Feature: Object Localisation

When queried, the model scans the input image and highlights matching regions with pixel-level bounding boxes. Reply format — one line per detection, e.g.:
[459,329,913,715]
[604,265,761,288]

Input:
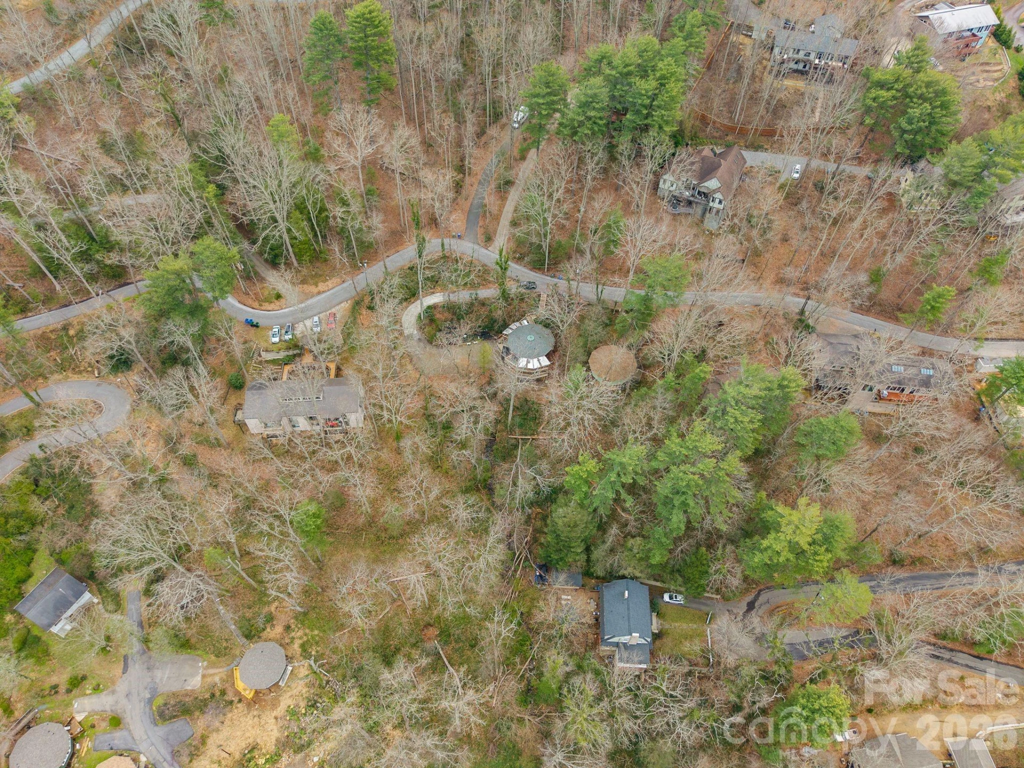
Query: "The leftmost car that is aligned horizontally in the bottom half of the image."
[662,591,686,604]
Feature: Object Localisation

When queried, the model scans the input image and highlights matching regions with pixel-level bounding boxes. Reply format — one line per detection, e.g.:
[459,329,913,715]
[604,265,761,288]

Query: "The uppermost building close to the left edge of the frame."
[17,566,98,641]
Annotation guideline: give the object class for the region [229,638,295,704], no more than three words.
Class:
house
